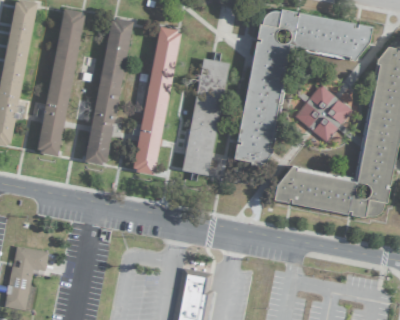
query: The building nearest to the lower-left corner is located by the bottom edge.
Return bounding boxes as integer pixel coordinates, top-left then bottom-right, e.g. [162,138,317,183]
[0,246,54,310]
